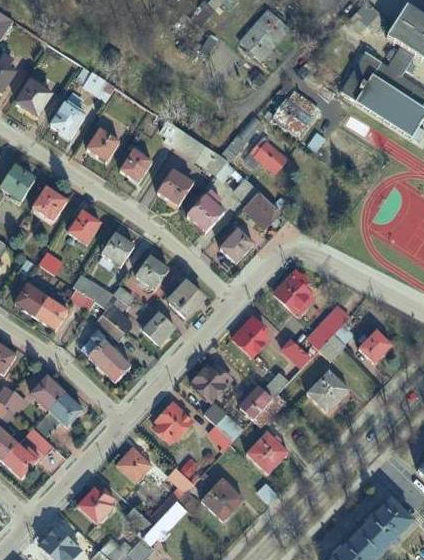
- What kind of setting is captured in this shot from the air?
residential area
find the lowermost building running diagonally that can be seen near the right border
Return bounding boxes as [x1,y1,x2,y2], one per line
[329,494,415,560]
